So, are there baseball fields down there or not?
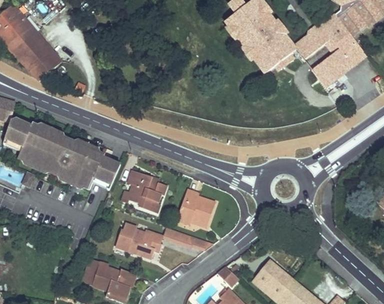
No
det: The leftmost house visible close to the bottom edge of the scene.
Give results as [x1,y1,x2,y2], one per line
[84,259,137,304]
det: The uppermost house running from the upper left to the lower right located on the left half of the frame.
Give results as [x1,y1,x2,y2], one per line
[0,6,62,77]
